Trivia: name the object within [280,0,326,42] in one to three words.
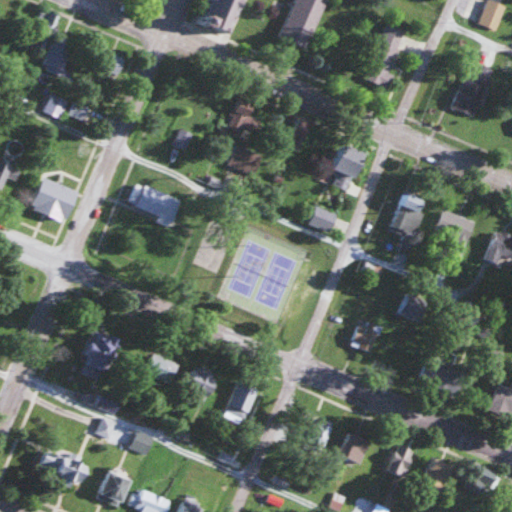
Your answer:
house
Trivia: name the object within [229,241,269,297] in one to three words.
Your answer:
tennis court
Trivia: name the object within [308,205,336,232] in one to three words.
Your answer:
building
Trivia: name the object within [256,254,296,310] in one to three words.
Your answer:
tennis court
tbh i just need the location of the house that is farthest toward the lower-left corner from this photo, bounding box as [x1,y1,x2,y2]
[46,447,92,488]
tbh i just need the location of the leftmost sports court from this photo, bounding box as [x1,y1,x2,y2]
[193,219,225,274]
